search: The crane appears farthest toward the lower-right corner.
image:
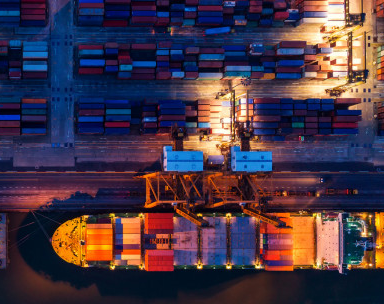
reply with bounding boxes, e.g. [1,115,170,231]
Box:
[190,126,291,226]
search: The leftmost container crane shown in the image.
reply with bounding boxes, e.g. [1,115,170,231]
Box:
[132,126,211,226]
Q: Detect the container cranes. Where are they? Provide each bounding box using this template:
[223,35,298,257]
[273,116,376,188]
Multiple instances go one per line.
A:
[190,126,291,226]
[132,126,211,226]
[314,29,367,96]
[315,0,367,42]
[211,87,249,148]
